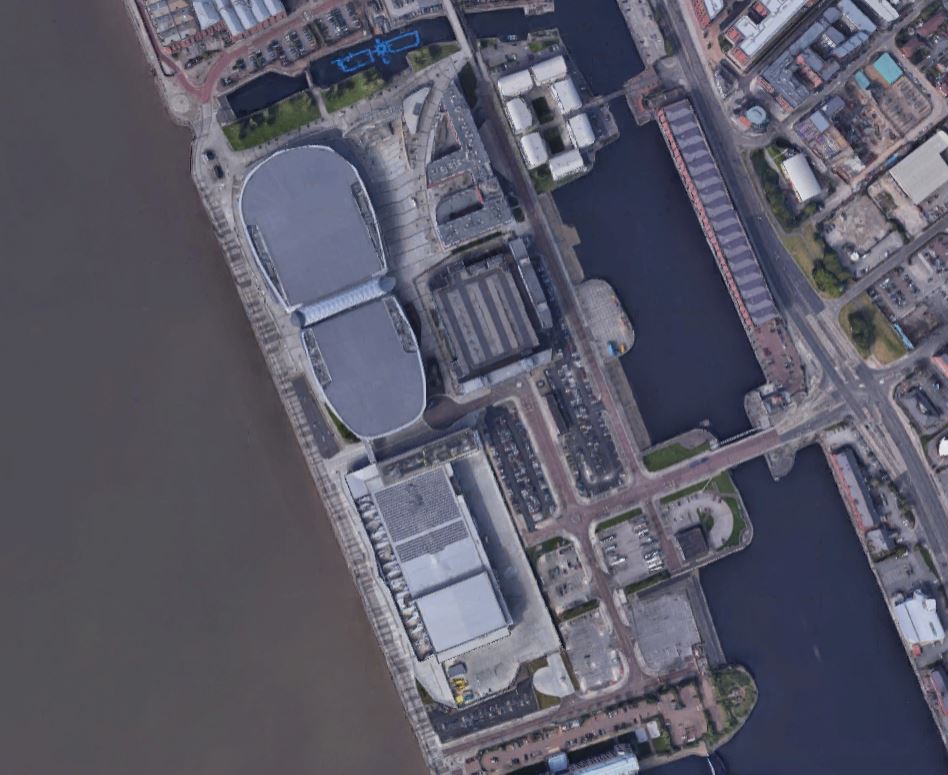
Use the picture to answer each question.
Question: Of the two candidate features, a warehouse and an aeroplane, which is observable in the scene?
warehouse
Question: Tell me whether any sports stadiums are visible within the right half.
No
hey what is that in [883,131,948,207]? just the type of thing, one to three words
building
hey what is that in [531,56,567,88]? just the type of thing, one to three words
building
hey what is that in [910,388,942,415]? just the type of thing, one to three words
shed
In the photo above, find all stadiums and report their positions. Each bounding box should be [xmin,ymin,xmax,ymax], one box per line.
[241,144,386,312]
